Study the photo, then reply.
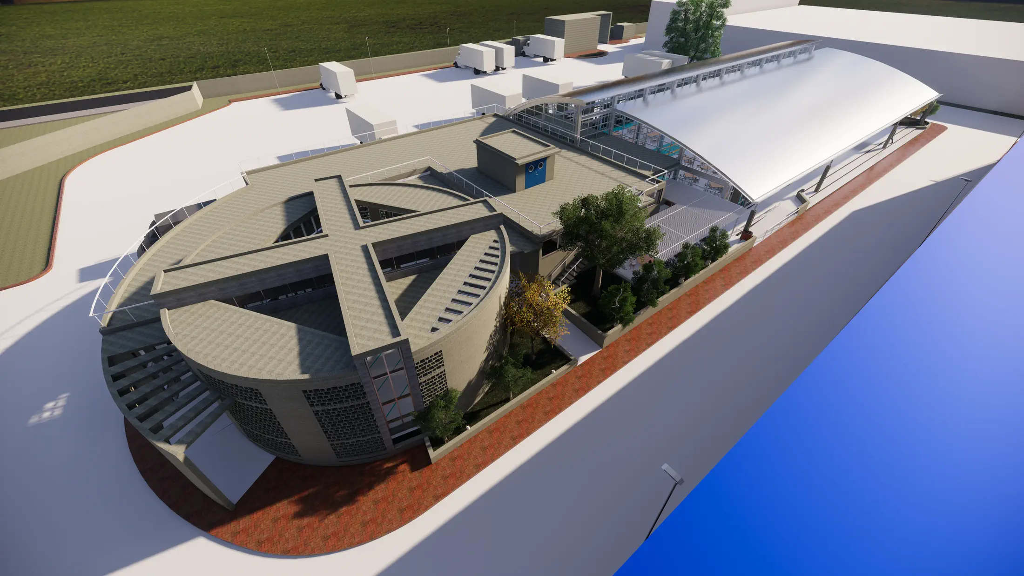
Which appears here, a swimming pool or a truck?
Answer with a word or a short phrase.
truck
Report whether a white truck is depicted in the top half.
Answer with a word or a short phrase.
Yes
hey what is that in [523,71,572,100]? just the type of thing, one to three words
truck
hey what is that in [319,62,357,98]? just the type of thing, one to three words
truck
